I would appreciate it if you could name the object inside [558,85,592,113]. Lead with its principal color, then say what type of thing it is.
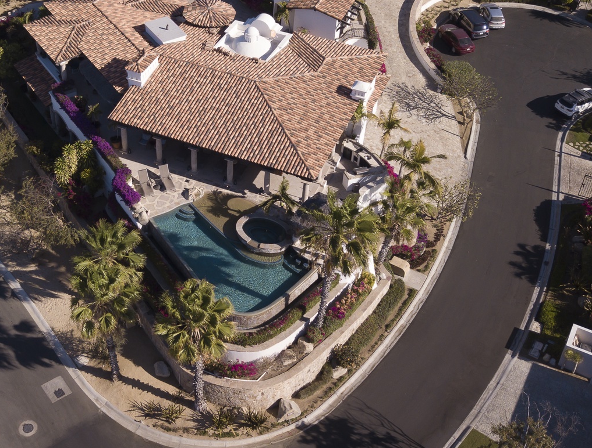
black car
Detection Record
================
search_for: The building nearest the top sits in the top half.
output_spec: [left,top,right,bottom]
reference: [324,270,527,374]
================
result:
[14,0,391,204]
